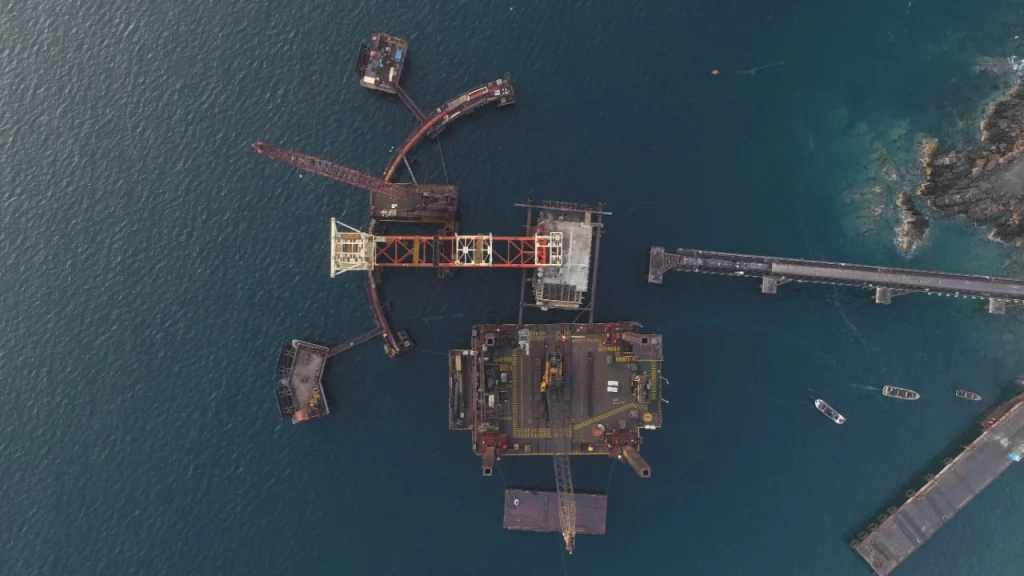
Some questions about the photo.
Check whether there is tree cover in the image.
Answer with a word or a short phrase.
No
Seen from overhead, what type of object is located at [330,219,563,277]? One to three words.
bridge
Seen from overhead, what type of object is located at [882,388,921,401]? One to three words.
boat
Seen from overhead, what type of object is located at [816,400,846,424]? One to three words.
boat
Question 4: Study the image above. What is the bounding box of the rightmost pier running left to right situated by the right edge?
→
[642,247,1024,313]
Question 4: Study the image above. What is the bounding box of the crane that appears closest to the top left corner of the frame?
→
[248,142,461,214]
